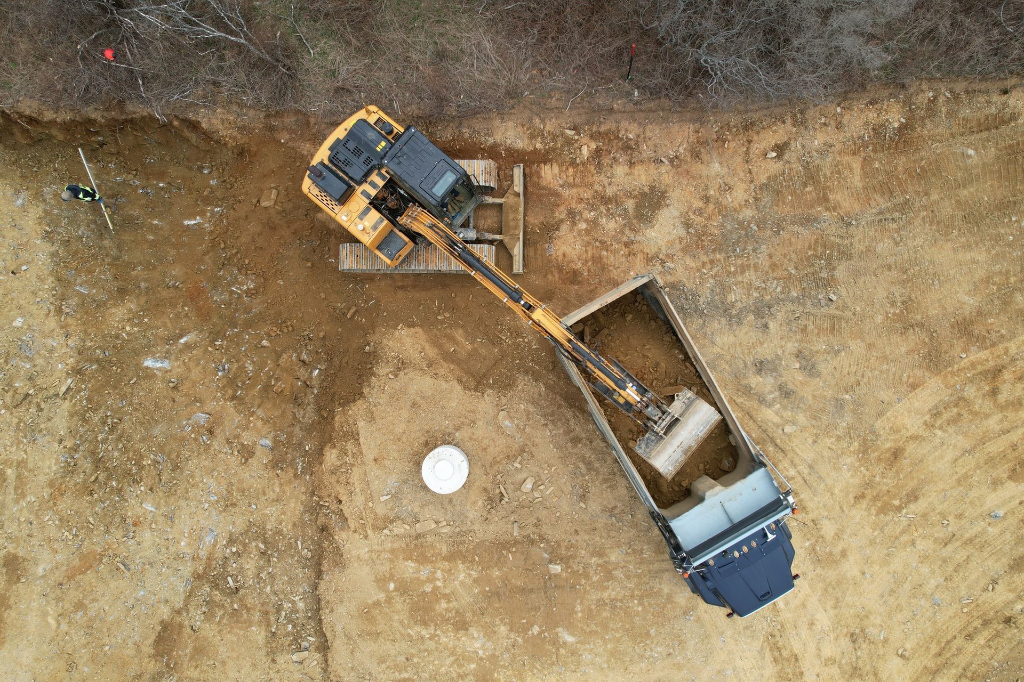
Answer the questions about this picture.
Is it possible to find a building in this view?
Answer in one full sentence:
No, no building is visible in the scene.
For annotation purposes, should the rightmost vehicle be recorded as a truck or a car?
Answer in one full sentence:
In the photo, the rightmost vehicle shows up as a truck.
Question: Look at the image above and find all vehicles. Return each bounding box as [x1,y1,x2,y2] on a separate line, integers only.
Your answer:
[304,101,721,480]
[554,270,815,617]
